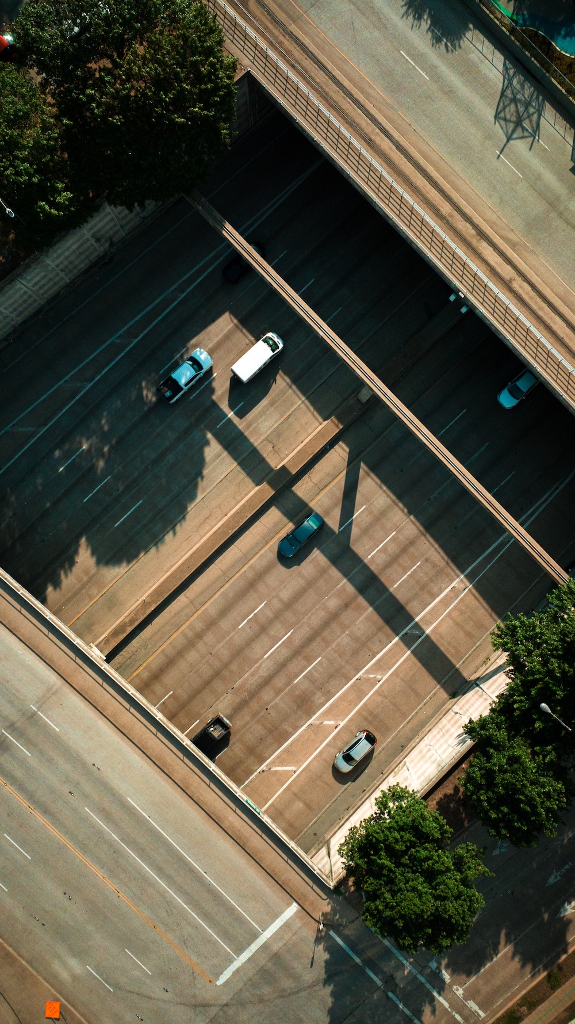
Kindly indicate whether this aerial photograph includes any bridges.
Yes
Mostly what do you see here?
paved ground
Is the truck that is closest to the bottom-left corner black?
Yes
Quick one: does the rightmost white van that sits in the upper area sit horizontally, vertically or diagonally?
diagonally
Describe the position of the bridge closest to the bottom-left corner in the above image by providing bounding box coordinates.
[0,567,341,905]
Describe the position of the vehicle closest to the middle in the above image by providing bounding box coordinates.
[281,510,326,557]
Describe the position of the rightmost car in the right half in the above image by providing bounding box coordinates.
[499,367,540,408]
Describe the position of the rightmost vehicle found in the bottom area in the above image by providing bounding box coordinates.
[337,730,378,772]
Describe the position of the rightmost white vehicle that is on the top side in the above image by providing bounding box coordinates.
[231,335,283,385]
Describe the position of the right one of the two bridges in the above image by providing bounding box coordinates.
[245,67,575,416]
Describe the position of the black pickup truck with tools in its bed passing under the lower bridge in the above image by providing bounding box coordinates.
[186,711,234,759]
